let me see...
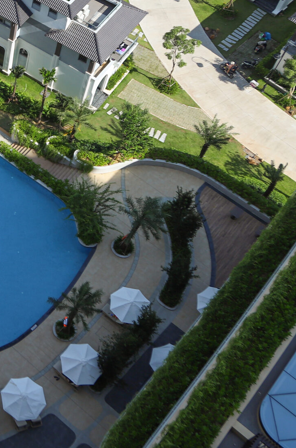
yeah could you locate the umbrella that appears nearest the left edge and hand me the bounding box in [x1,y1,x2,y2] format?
[1,377,46,424]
